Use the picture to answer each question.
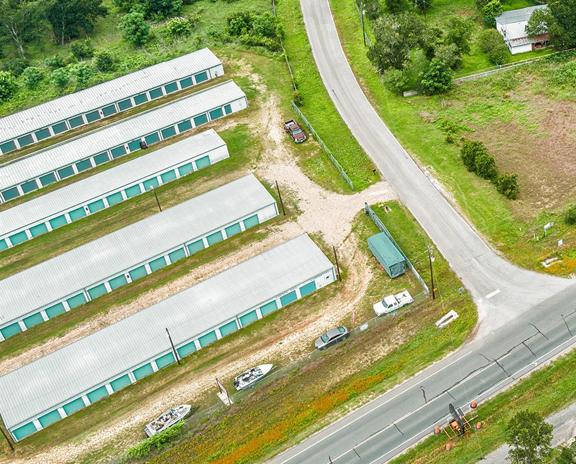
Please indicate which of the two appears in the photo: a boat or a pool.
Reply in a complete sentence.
Visible in the photo is a boat.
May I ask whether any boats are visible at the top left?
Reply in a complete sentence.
No, no boat can be made out at the top left.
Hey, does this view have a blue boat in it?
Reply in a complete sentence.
No, I find no blue boat anywhere in the image.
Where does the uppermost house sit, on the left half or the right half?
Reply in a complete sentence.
The uppermost house sits on the right side.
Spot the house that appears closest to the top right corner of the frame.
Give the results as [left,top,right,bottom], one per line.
[493,8,561,54]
